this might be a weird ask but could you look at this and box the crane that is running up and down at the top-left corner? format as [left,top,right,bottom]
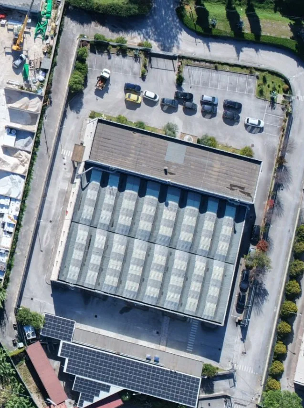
[6,0,32,56]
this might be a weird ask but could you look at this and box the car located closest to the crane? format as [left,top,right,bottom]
[11,55,25,69]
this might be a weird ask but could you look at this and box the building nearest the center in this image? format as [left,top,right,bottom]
[51,118,263,327]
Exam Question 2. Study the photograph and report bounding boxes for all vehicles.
[249,223,262,244]
[11,55,25,69]
[141,90,160,103]
[199,104,218,114]
[173,90,193,101]
[122,82,143,94]
[124,93,142,104]
[221,110,239,122]
[235,291,246,311]
[158,97,178,109]
[198,94,219,105]
[239,268,249,290]
[95,66,114,89]
[244,118,264,128]
[221,99,243,111]
[181,100,198,110]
